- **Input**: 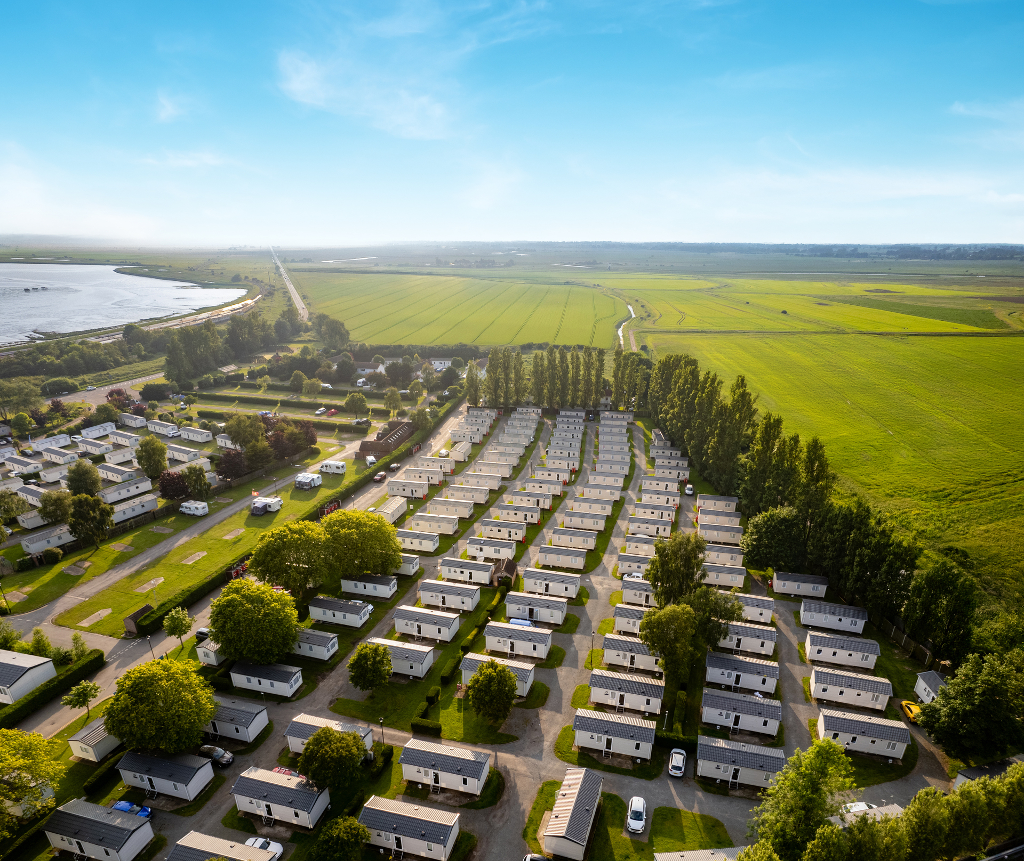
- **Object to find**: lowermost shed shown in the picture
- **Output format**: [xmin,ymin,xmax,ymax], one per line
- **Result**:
[125,603,161,632]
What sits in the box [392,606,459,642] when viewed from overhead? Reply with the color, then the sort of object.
gray camper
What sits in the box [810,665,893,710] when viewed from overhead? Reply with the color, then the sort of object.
gray camper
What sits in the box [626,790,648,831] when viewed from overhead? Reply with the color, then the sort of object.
white car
